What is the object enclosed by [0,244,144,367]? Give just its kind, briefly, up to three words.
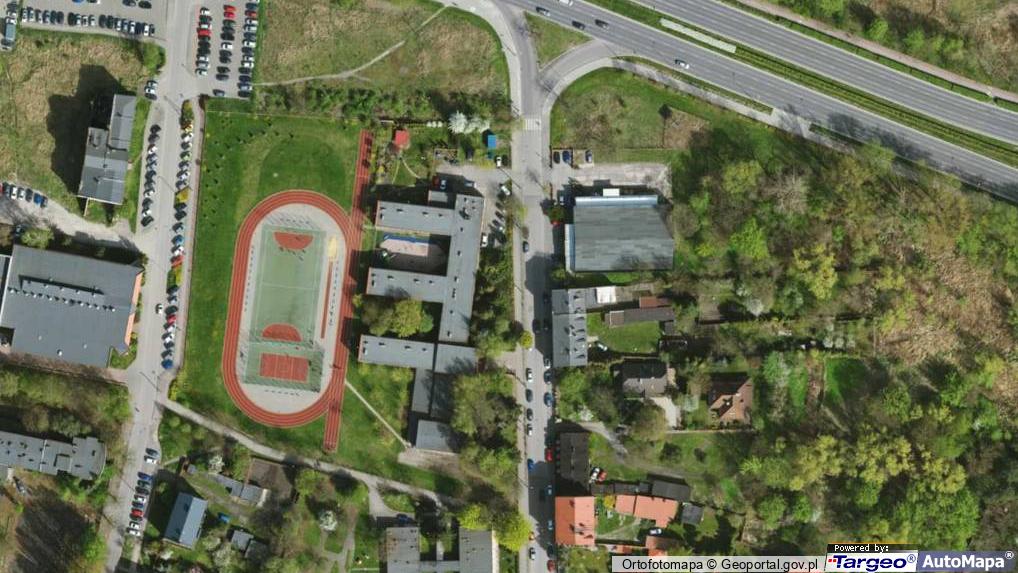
building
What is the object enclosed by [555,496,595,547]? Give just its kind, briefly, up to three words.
house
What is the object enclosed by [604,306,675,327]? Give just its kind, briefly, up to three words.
shed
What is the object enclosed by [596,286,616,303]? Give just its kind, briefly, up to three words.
shed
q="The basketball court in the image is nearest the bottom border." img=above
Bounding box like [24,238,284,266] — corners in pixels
[244,343,324,392]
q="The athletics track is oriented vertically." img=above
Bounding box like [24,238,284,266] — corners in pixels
[222,128,374,454]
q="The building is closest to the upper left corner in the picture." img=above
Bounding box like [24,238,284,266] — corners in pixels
[79,95,140,205]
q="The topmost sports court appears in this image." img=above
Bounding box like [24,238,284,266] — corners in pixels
[250,226,326,348]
